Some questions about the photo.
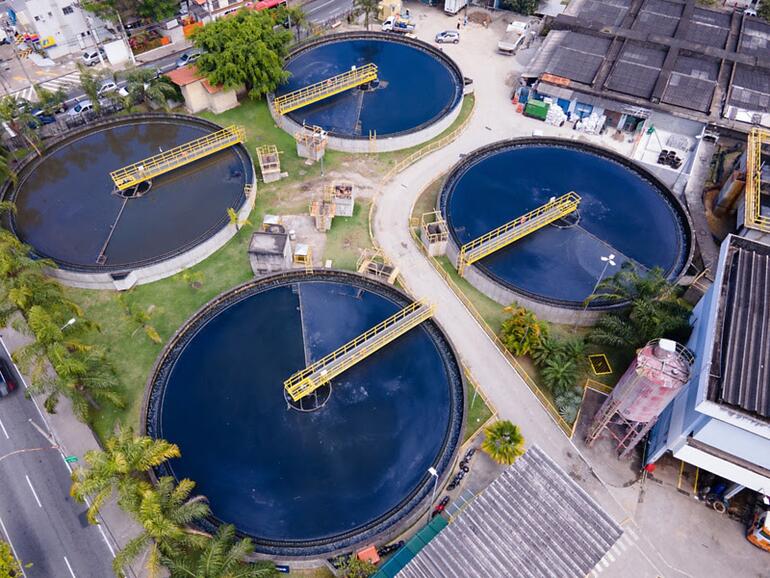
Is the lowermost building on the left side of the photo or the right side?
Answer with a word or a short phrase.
right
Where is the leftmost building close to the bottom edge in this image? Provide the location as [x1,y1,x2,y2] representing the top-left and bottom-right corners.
[394,444,627,578]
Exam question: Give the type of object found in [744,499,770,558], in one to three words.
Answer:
truck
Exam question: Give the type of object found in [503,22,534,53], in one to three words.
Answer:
truck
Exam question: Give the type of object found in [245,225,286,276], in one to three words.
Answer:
building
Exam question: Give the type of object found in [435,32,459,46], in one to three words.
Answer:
car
